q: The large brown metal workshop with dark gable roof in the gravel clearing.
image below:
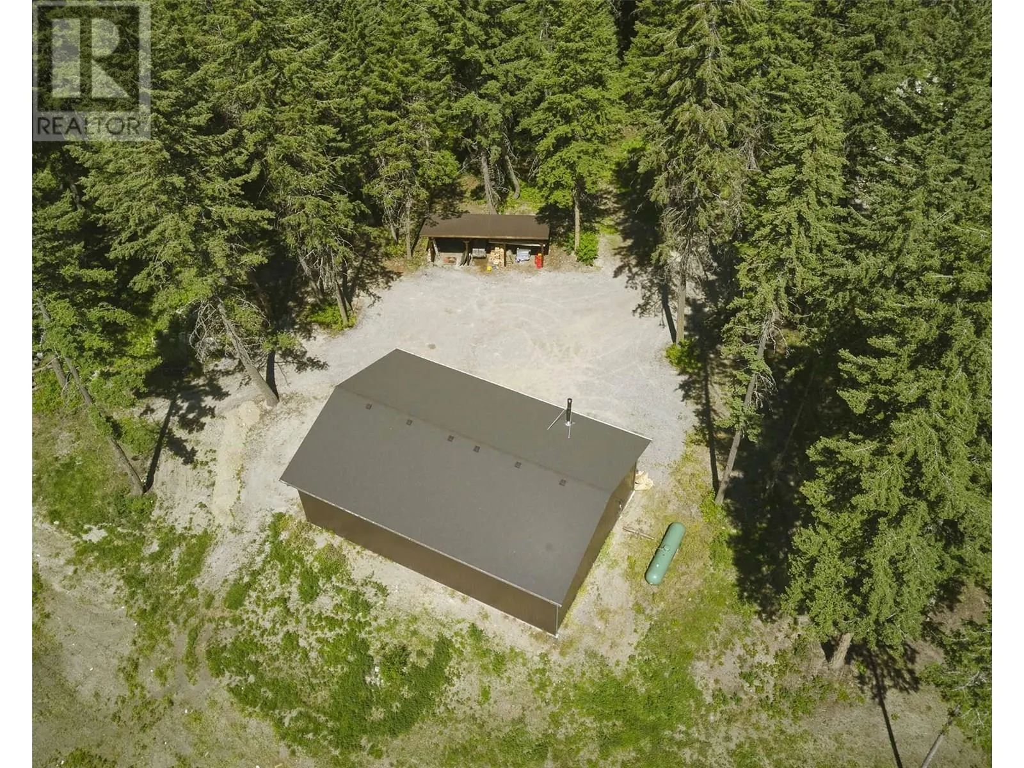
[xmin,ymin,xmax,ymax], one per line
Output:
[279,349,651,638]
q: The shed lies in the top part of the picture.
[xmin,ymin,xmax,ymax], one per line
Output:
[418,215,550,270]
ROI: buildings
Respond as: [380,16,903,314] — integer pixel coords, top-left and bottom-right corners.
[279,349,651,638]
[418,215,550,270]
